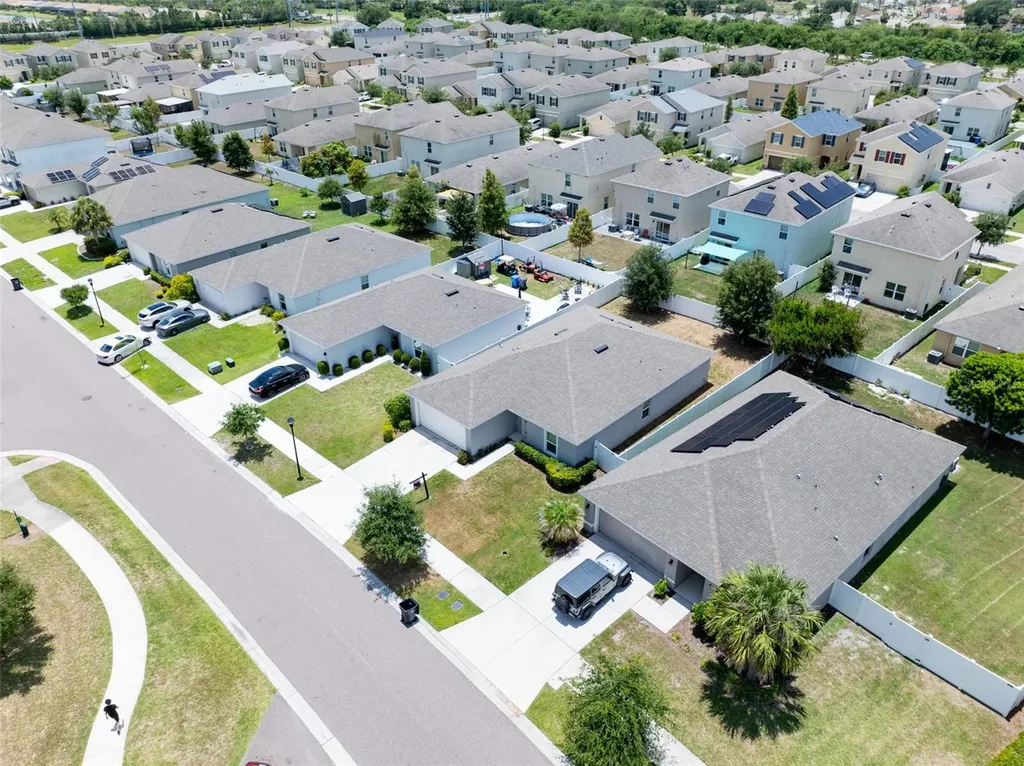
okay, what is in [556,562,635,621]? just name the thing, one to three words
car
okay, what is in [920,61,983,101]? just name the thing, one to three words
house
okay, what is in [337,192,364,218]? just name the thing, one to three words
shed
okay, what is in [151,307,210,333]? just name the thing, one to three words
car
